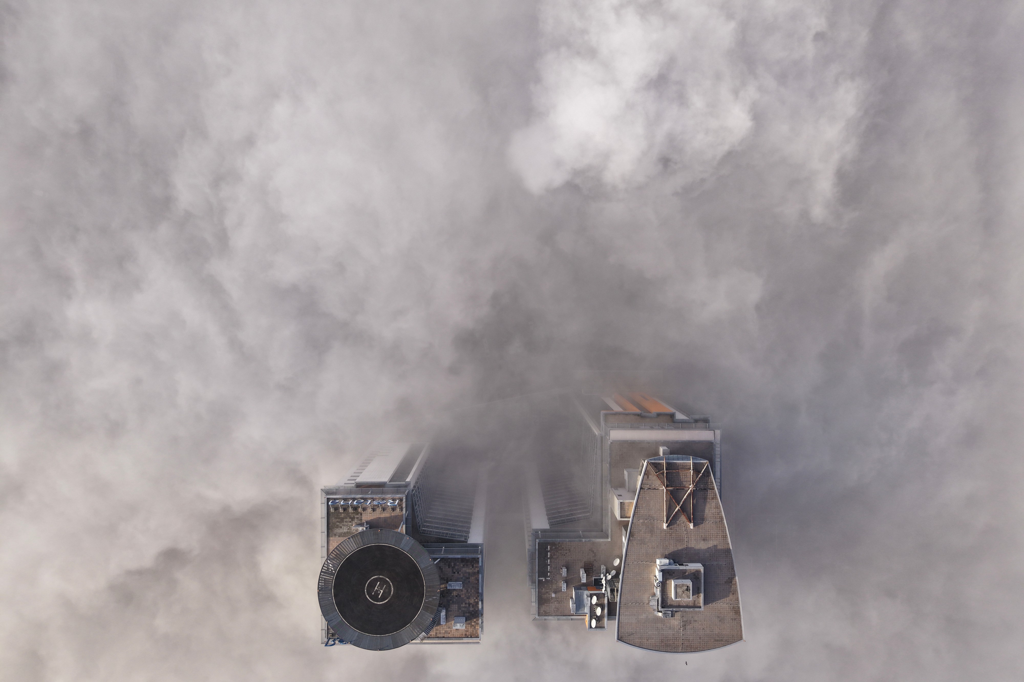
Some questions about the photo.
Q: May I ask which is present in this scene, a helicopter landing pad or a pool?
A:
helicopter landing pad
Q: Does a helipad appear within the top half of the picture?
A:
No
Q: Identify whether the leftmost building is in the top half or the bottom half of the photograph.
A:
bottom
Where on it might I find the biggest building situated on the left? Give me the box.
[321,441,492,645]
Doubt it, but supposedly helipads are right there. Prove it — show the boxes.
[317,519,441,652]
